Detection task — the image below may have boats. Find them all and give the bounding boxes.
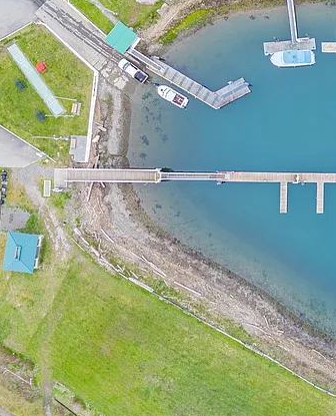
[270,47,316,69]
[158,87,189,109]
